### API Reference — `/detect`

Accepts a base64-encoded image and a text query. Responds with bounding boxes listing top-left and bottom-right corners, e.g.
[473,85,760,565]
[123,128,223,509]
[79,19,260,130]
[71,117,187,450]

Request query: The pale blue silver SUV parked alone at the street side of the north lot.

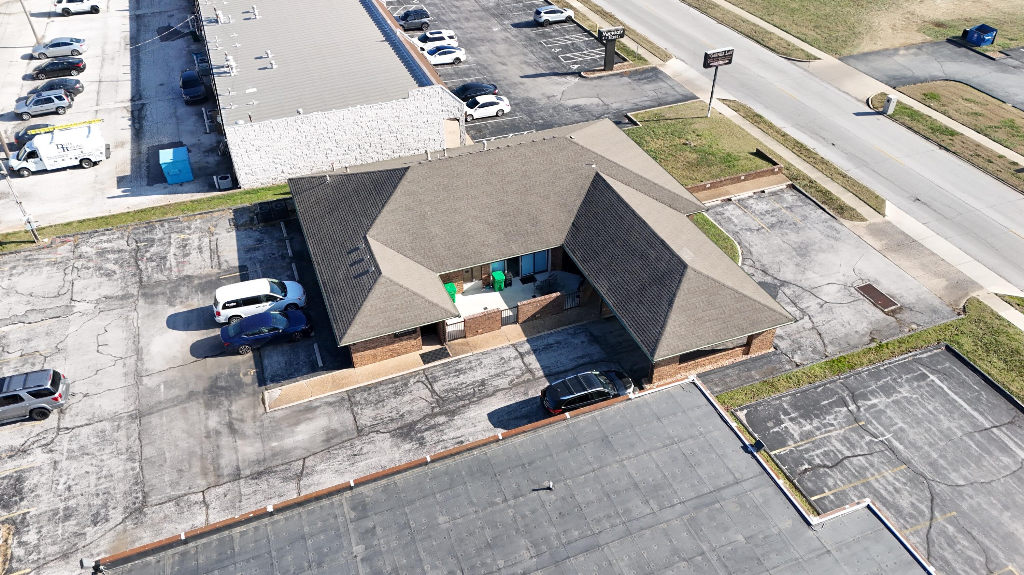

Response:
[532,3,577,25]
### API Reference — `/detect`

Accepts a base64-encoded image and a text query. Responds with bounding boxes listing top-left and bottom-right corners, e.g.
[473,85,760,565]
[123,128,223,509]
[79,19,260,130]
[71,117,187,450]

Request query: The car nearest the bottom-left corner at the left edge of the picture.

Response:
[0,365,73,426]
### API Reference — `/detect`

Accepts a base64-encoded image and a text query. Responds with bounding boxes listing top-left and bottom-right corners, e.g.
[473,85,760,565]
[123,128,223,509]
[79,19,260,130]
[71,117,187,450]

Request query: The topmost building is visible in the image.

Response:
[193,0,466,188]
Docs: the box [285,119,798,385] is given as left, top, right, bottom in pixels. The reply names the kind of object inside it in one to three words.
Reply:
building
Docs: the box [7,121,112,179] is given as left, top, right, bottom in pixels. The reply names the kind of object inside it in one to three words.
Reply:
truck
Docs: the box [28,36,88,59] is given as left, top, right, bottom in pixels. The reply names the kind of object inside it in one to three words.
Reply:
car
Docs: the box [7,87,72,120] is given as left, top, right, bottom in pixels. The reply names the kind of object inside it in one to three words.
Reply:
car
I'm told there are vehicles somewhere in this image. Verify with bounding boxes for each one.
[396,7,432,30]
[27,55,86,79]
[539,368,642,421]
[0,365,73,426]
[51,0,104,16]
[453,81,499,100]
[180,67,208,104]
[7,87,72,120]
[464,93,513,121]
[208,273,308,323]
[7,121,112,179]
[12,120,81,148]
[423,44,468,65]
[532,3,577,25]
[24,78,88,99]
[411,24,461,51]
[28,36,88,59]
[215,306,315,355]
